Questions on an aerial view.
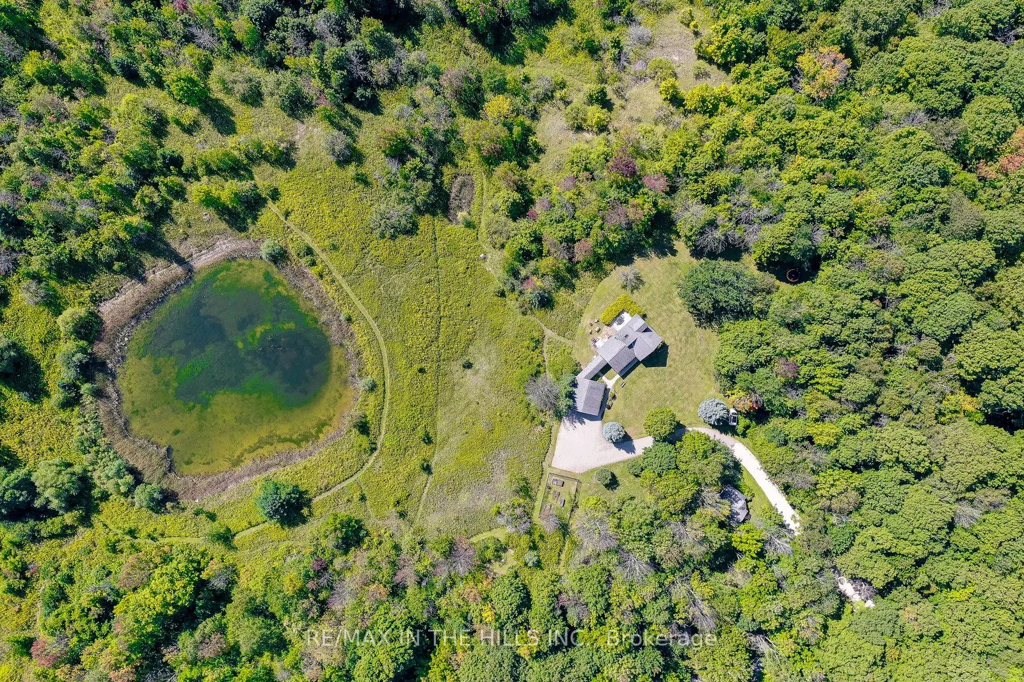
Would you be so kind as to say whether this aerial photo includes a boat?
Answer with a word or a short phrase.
No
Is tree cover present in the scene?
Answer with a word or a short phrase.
Yes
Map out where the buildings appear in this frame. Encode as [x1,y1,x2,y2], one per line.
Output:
[577,314,662,381]
[714,486,748,524]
